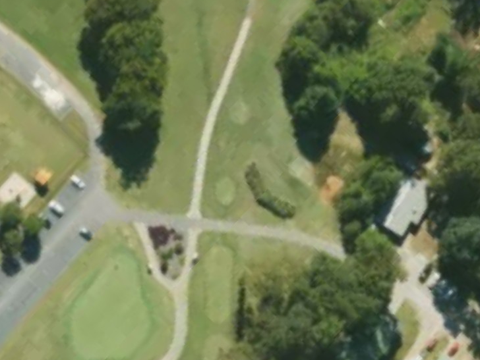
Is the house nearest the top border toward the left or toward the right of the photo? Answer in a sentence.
The house nearest the top border is on the right side of the image.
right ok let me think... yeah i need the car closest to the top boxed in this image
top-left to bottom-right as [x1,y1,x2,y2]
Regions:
[70,175,85,189]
